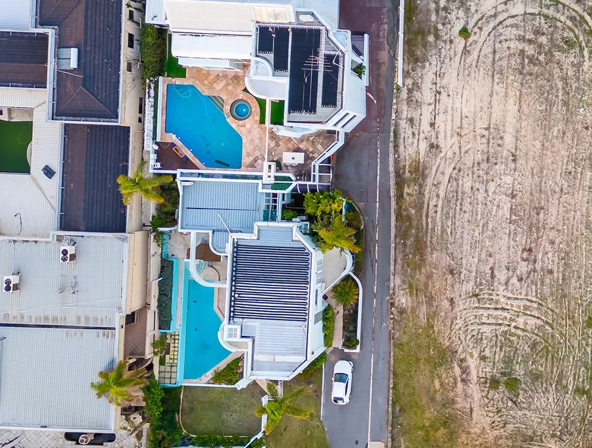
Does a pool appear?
Yes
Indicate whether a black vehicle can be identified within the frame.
No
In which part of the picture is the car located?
bottom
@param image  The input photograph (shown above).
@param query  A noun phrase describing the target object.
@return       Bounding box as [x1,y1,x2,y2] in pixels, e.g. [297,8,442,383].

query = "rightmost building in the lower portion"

[157,179,350,387]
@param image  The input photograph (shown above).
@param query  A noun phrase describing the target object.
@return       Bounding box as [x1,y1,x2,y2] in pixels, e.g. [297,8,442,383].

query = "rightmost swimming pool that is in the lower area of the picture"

[159,258,236,384]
